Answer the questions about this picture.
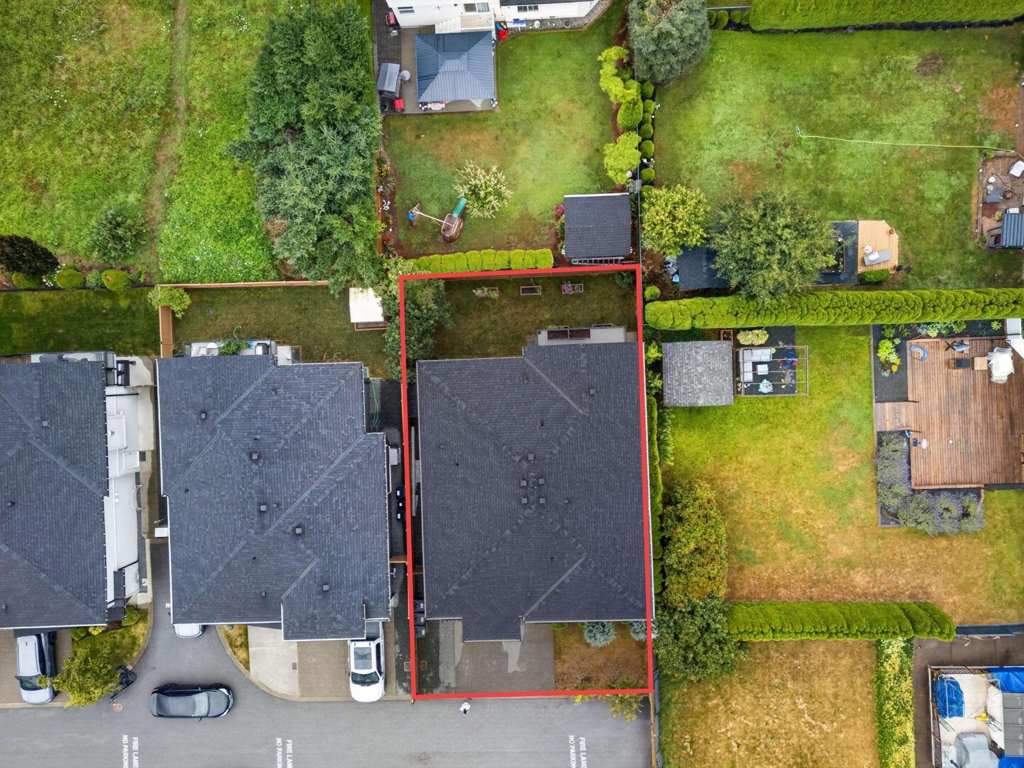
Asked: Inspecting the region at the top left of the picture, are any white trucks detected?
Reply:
No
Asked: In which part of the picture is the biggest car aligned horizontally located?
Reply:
bottom left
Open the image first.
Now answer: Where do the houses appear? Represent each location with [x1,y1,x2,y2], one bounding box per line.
[154,355,395,642]
[0,362,146,630]
[390,0,595,33]
[415,342,651,642]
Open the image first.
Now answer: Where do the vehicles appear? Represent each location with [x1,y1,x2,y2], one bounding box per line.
[12,627,58,706]
[345,621,386,700]
[173,625,206,639]
[149,681,235,722]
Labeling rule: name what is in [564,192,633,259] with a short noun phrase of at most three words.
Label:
shed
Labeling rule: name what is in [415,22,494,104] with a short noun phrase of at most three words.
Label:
gazebo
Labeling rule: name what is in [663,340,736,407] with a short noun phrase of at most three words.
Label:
shed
